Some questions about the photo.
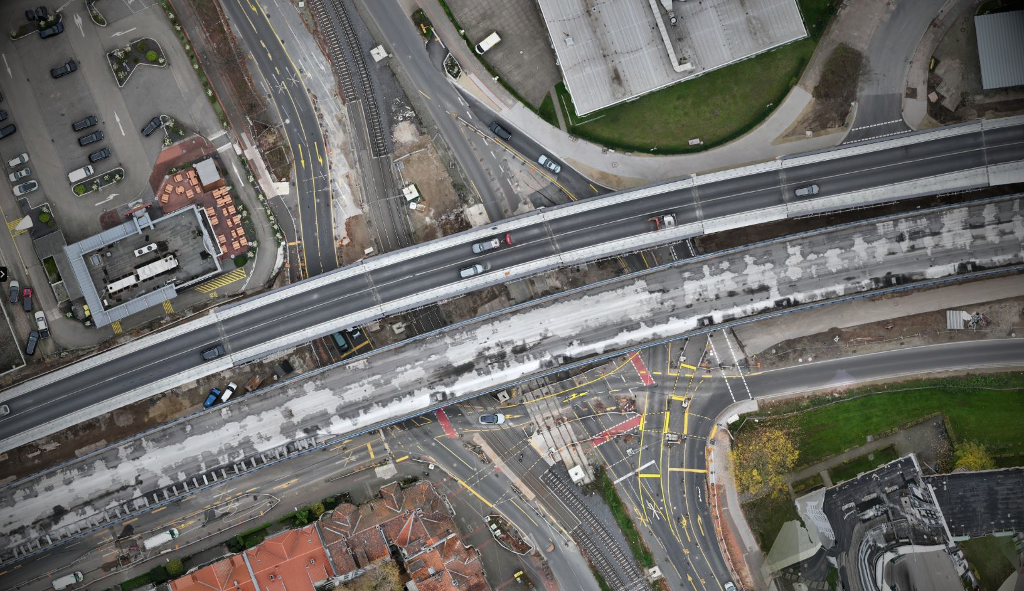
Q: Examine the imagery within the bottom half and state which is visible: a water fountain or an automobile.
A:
automobile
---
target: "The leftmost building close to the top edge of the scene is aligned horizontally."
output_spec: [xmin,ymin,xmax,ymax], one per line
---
[536,0,807,119]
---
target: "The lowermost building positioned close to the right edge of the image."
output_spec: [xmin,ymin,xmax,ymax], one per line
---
[796,449,1024,591]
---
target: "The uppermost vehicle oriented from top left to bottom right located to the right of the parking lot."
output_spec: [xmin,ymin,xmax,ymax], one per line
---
[487,118,513,141]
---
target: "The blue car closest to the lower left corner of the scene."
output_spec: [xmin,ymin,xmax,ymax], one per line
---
[202,384,221,409]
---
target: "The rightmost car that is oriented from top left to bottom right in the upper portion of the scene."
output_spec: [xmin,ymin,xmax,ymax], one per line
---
[536,152,562,175]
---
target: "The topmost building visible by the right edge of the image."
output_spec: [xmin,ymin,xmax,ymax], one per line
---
[967,7,1024,93]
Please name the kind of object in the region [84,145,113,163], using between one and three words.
car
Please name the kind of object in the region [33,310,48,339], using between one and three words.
vehicle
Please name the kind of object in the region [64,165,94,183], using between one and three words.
vehicle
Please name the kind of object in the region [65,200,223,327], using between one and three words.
building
